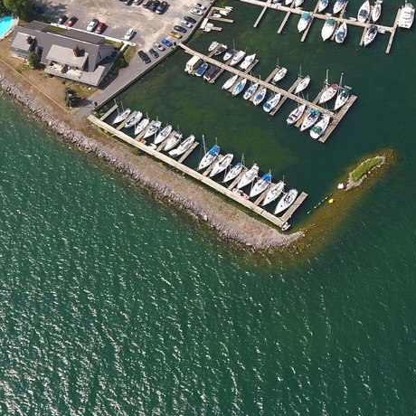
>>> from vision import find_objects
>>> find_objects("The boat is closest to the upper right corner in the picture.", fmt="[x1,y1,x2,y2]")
[397,0,415,32]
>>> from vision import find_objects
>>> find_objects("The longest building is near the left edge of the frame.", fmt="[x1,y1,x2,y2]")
[11,15,122,89]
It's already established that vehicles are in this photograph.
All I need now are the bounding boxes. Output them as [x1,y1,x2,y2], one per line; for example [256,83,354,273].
[192,1,208,10]
[153,41,167,52]
[180,18,194,28]
[57,14,70,25]
[140,0,153,10]
[183,15,198,24]
[86,19,99,31]
[95,21,107,33]
[173,24,188,34]
[132,0,145,6]
[123,28,136,40]
[168,29,183,40]
[148,46,162,59]
[156,2,167,14]
[137,49,153,62]
[67,16,79,26]
[149,0,161,10]
[190,7,205,16]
